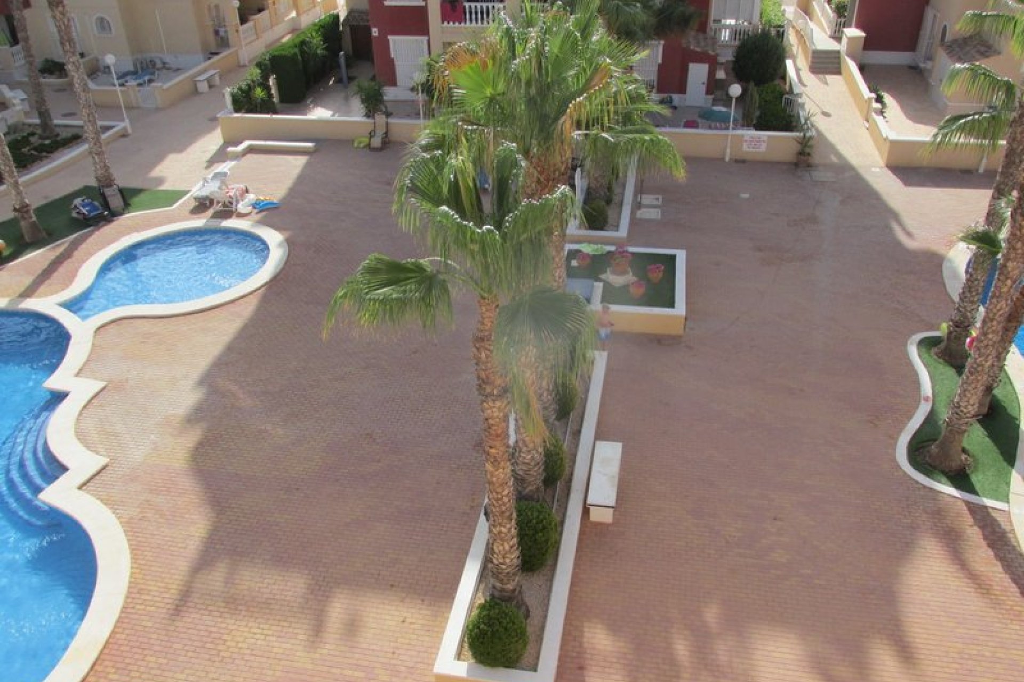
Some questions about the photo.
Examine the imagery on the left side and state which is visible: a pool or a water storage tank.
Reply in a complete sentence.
The feature located on the left side is a pool.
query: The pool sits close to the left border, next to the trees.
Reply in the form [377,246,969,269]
[0,217,288,682]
